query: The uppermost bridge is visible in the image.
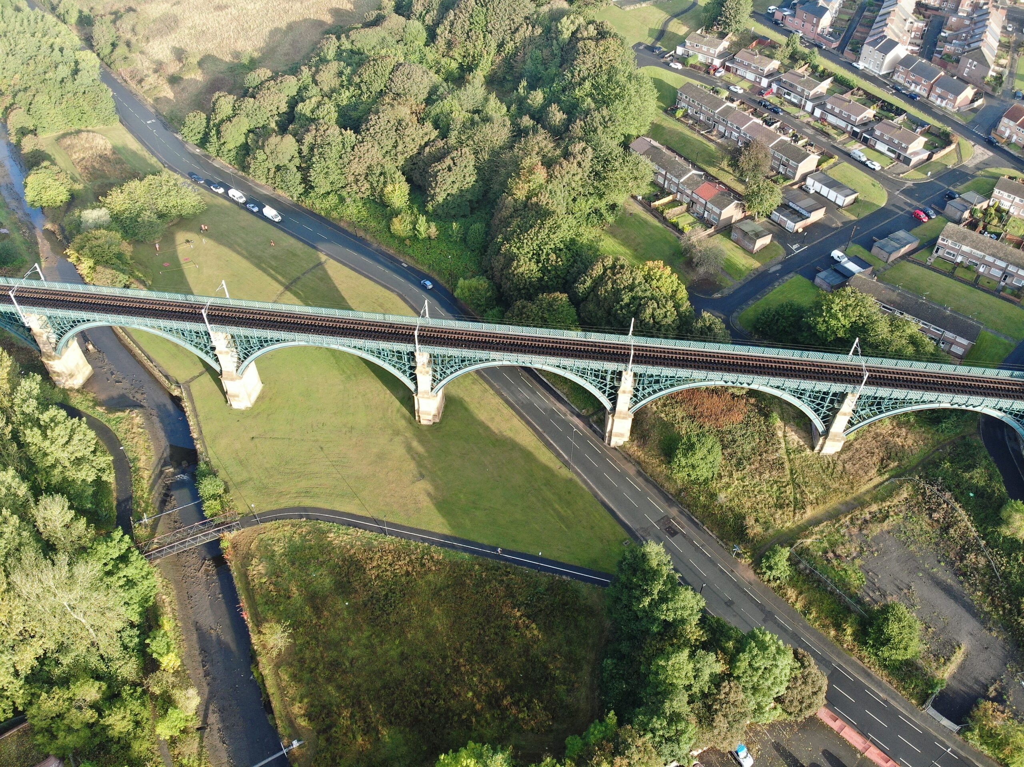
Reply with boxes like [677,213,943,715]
[0,277,1024,454]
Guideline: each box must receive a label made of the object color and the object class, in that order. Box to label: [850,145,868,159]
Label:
white vehicle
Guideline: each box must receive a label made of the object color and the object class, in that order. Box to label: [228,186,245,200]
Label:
white vehicle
